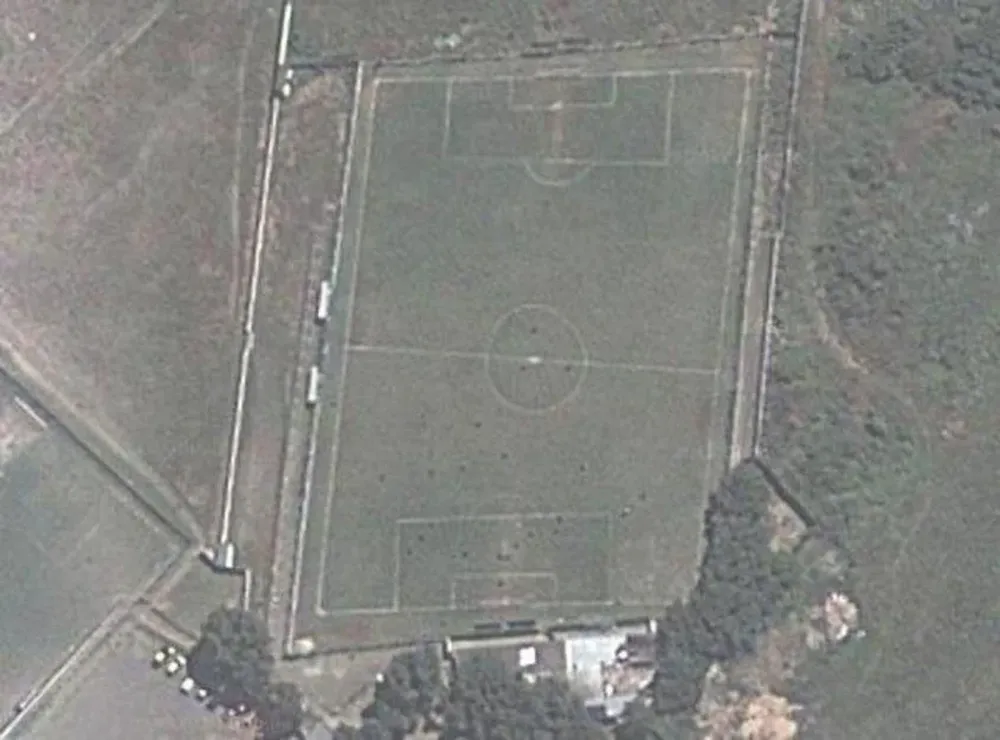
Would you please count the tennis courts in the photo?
0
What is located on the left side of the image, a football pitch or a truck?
football pitch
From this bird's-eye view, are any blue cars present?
No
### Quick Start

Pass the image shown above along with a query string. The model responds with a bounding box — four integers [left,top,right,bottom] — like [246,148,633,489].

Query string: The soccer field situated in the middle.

[292,43,773,650]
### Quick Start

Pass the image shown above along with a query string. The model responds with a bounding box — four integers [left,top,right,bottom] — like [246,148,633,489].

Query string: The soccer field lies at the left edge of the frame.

[0,432,185,719]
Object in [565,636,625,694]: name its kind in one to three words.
building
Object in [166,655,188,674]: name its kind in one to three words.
car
